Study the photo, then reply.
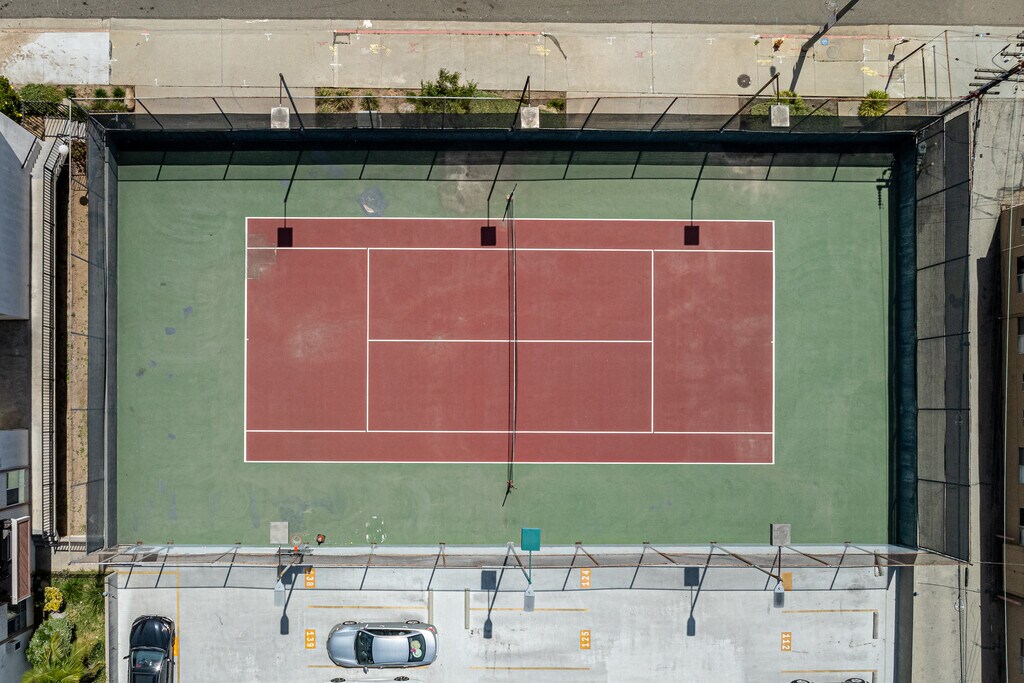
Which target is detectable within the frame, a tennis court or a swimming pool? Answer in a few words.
tennis court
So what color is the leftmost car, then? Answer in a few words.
black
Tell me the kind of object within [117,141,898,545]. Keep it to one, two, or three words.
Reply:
tennis court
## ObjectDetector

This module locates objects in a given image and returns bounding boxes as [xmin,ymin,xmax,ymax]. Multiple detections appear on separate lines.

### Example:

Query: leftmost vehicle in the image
[122,615,175,683]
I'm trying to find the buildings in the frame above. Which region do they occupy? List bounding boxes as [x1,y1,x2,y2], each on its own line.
[0,112,53,683]
[995,198,1024,683]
